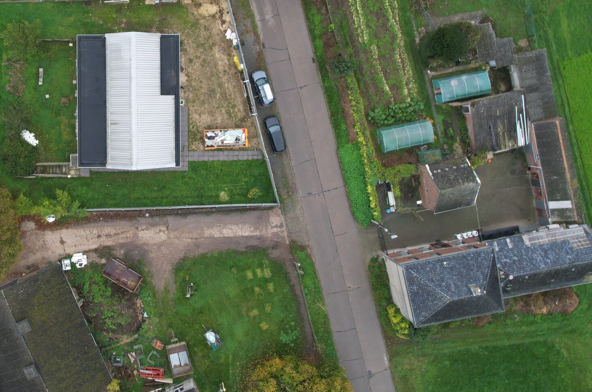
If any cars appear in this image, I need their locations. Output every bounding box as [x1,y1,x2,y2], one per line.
[252,69,275,107]
[265,116,288,153]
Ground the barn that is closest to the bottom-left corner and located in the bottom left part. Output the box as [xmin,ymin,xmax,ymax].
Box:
[0,258,120,392]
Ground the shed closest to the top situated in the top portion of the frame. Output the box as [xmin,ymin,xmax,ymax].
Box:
[469,23,515,66]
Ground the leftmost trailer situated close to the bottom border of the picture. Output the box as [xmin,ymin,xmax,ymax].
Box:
[168,338,193,380]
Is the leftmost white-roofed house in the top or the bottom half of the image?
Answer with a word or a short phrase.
top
